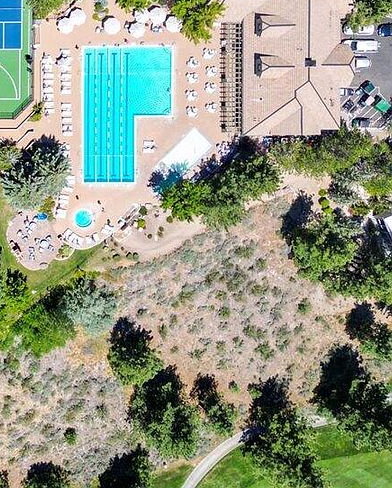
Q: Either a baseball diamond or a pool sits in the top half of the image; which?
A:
pool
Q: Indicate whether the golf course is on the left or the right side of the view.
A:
right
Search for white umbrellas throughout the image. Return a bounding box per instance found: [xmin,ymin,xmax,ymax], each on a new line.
[132,7,149,24]
[102,18,120,36]
[163,18,178,34]
[128,22,144,38]
[68,8,85,26]
[55,18,73,35]
[149,7,166,24]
